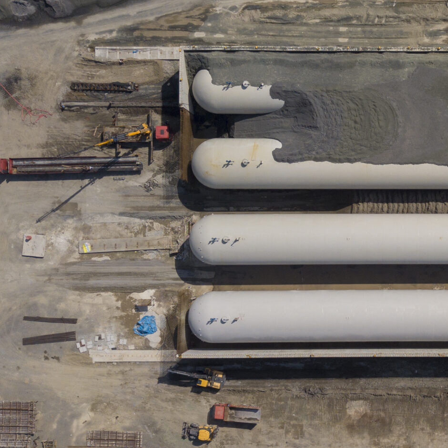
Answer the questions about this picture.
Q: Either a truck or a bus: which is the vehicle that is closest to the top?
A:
truck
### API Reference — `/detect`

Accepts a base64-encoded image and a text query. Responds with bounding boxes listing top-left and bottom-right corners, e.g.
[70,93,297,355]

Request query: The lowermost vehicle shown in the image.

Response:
[179,423,220,441]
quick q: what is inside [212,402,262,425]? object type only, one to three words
truck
